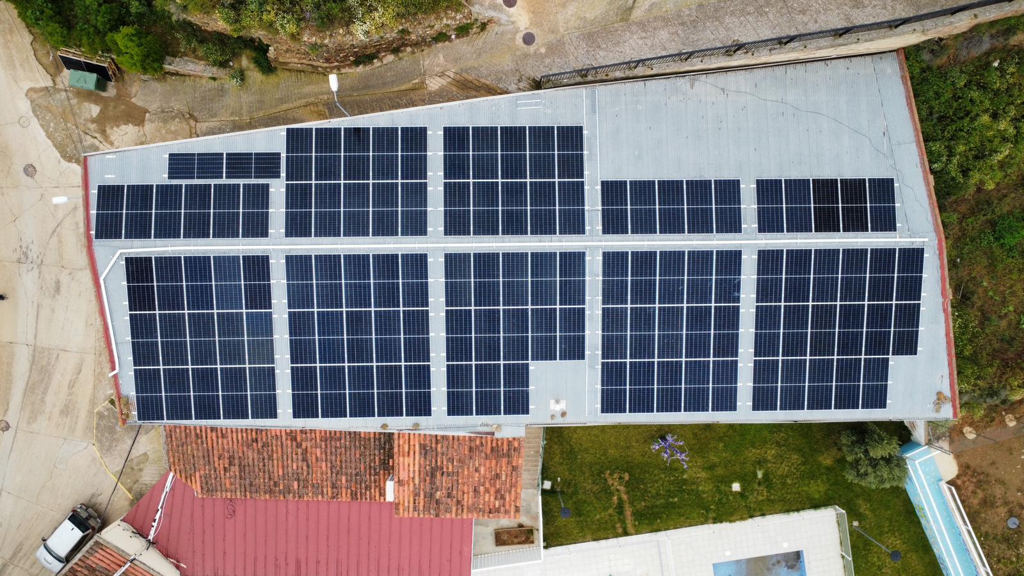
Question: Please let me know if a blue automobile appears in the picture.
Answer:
No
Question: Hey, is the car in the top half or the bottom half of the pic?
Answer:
bottom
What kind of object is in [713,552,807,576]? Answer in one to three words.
swimming pool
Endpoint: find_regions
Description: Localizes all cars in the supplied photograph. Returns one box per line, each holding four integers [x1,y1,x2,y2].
[41,500,106,565]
